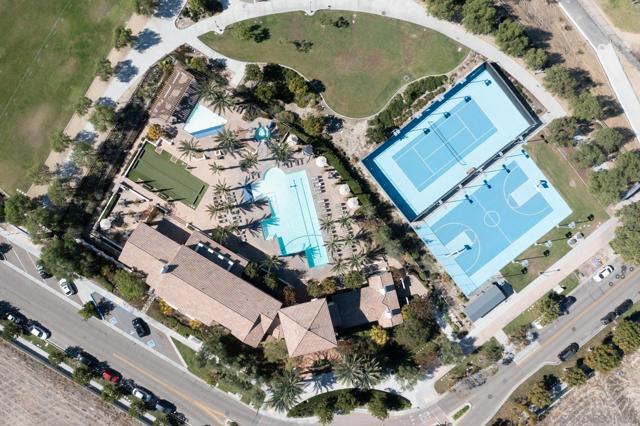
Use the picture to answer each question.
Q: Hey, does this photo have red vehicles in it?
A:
Yes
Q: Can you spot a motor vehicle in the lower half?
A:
Yes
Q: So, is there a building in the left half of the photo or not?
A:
Yes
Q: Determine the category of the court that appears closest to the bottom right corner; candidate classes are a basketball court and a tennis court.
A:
basketball court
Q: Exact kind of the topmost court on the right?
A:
tennis court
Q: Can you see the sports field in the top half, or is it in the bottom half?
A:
top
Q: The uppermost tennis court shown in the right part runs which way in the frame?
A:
on a diagonal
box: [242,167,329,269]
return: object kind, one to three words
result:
swimming pool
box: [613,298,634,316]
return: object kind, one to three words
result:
car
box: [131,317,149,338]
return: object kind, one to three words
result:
car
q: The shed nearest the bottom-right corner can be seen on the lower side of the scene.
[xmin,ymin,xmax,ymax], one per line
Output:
[462,284,506,322]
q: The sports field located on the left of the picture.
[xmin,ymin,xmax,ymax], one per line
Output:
[0,0,136,194]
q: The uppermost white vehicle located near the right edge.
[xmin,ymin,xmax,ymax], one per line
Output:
[592,264,613,281]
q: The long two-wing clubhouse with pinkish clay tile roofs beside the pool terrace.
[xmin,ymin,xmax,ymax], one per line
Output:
[118,222,286,347]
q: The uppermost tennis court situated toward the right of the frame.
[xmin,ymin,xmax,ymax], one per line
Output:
[363,64,536,220]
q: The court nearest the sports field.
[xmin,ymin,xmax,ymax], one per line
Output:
[128,143,209,208]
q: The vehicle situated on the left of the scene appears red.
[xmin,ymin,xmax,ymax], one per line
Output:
[102,368,123,384]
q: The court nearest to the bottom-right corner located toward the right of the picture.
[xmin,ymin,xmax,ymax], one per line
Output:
[411,147,572,296]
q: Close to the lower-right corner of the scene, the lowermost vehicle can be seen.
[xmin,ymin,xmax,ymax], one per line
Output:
[558,343,579,362]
